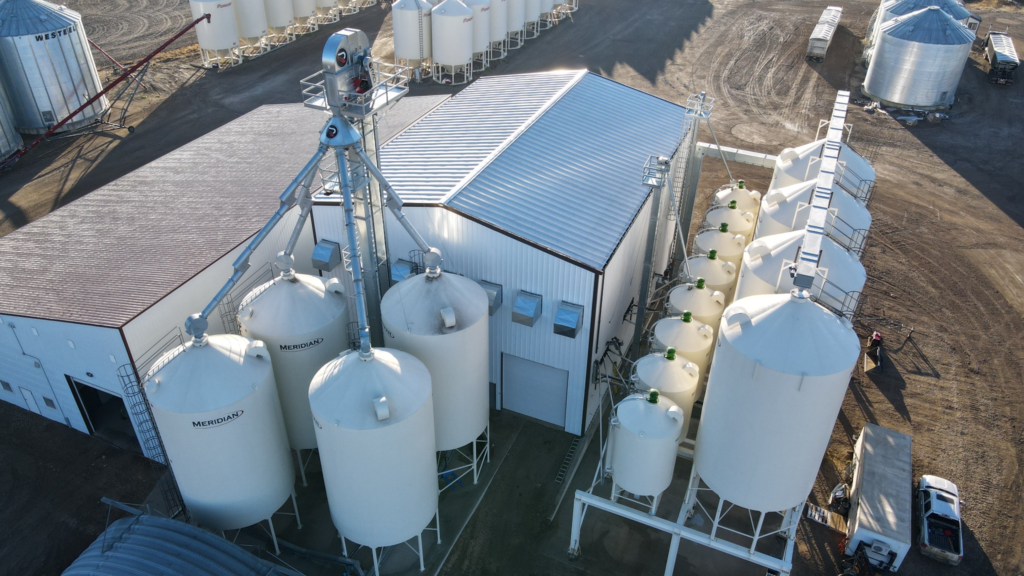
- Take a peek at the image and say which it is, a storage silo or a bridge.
storage silo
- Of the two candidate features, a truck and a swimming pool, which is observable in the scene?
truck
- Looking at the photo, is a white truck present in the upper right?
Yes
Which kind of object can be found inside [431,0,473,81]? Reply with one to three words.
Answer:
silo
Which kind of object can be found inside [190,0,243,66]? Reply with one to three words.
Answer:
silo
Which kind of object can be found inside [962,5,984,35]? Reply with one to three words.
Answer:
shed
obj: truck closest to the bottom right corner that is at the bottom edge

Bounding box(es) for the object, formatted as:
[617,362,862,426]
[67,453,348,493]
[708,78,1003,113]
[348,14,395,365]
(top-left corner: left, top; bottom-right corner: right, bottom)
[912,474,965,569]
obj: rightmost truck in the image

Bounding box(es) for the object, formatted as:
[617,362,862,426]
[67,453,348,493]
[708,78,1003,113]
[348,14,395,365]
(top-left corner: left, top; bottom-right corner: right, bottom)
[982,24,1020,84]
